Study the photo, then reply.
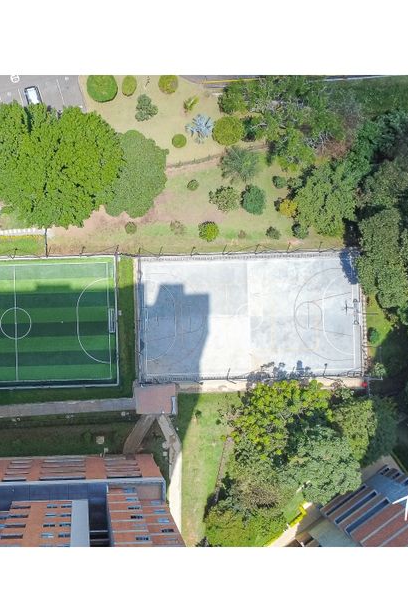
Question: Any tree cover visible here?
Yes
